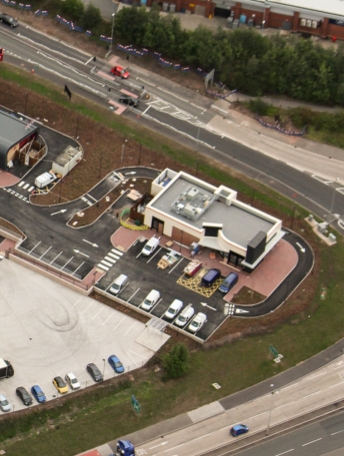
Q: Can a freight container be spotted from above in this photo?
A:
Yes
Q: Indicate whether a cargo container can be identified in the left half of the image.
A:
Yes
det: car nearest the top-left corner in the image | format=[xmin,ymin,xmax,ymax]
[0,12,19,28]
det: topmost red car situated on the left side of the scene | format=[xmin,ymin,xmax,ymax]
[111,65,128,79]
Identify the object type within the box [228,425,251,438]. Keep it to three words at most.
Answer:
vehicle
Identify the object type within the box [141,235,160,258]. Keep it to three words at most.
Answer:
vehicle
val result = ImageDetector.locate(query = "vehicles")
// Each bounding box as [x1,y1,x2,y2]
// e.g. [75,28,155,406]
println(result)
[29,385,47,404]
[71,436,141,456]
[115,91,142,109]
[189,311,207,333]
[109,273,129,296]
[175,305,194,329]
[0,394,12,413]
[141,235,160,258]
[0,12,19,28]
[164,298,184,322]
[14,387,34,407]
[108,355,124,373]
[64,373,81,390]
[51,376,69,395]
[228,425,251,438]
[142,289,160,312]
[86,363,103,383]
[0,360,15,378]
[111,65,128,79]
[34,173,58,190]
